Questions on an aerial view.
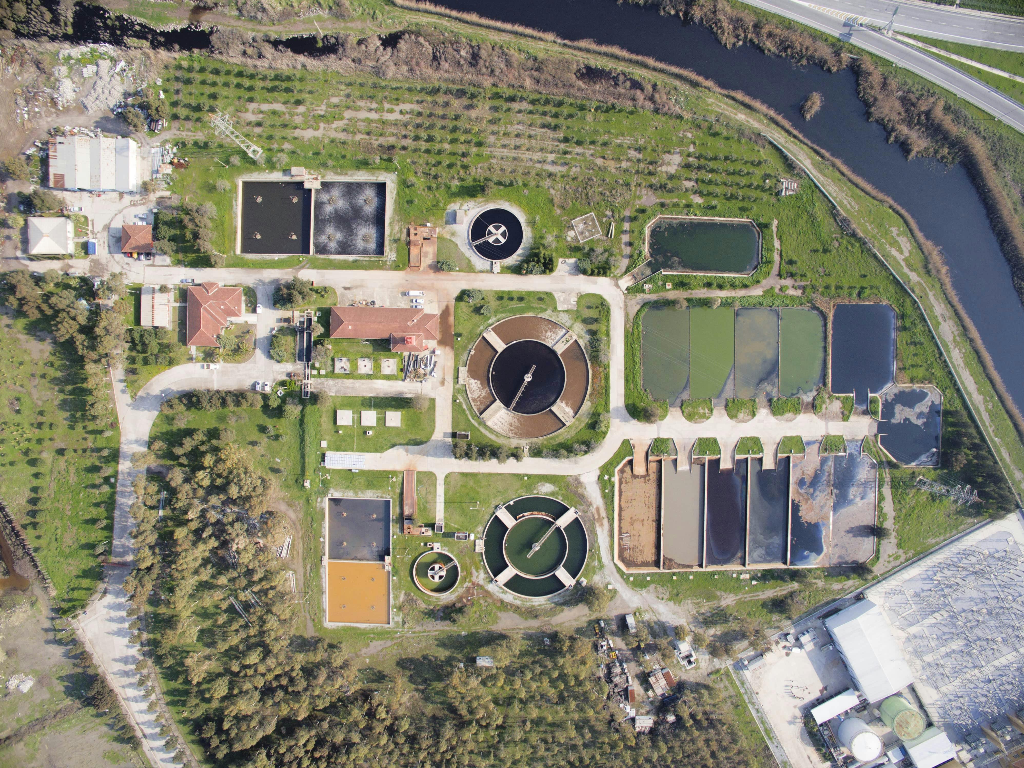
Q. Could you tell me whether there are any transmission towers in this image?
Yes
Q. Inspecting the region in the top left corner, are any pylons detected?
Yes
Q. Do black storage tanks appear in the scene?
Yes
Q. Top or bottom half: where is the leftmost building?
top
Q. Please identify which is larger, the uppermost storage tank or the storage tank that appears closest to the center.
the storage tank that appears closest to the center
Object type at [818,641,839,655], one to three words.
vehicle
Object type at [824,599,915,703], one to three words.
shed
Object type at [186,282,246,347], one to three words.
house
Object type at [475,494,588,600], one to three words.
storage tank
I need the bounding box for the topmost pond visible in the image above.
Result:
[618,215,761,293]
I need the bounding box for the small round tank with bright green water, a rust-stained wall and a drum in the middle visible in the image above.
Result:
[413,543,460,597]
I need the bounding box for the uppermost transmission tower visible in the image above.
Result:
[210,109,263,162]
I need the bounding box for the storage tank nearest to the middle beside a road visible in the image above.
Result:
[458,315,590,439]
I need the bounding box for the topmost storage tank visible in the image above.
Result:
[470,207,524,272]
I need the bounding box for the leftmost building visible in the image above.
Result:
[27,217,76,255]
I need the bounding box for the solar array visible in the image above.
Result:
[326,454,366,468]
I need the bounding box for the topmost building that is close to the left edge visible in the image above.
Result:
[49,137,149,197]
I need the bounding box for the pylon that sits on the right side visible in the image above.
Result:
[909,473,985,506]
